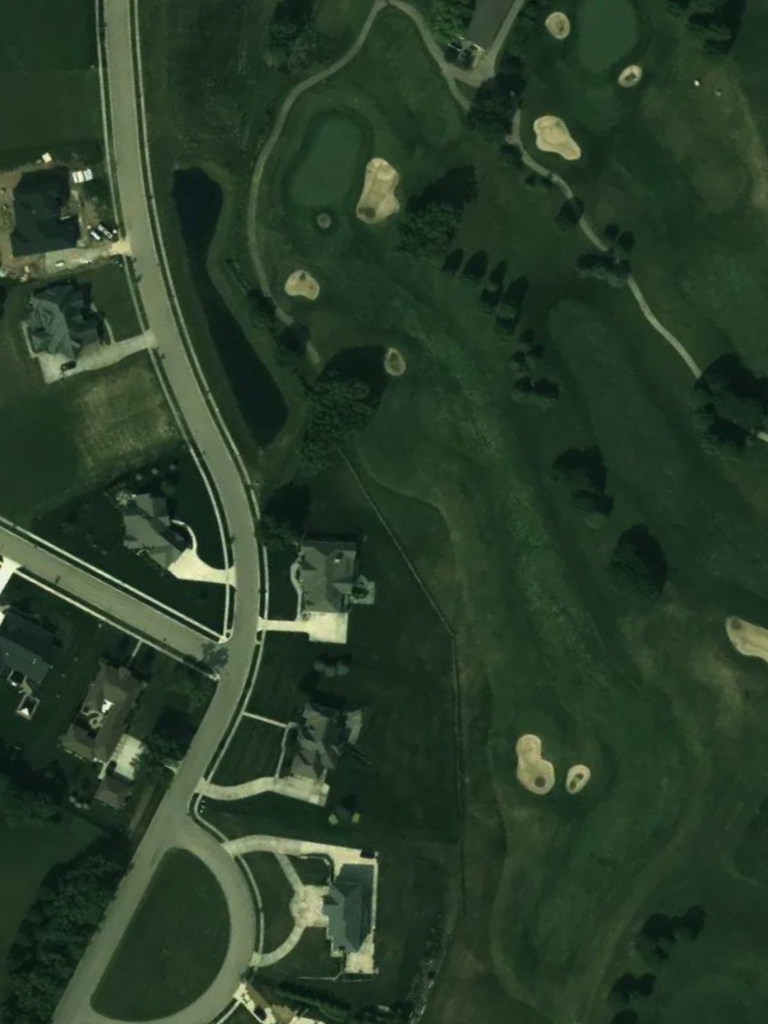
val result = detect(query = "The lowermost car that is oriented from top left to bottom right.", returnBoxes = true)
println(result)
[252,1006,268,1020]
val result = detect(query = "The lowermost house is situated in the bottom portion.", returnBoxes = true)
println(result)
[322,864,373,953]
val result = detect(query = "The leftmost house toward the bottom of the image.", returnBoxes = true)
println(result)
[0,608,54,683]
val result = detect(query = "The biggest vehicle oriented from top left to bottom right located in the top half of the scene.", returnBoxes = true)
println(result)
[97,222,114,240]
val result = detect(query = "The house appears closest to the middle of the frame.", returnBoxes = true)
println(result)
[299,542,359,619]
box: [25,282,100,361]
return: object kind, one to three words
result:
house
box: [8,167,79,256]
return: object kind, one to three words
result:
house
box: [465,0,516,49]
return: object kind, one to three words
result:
building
